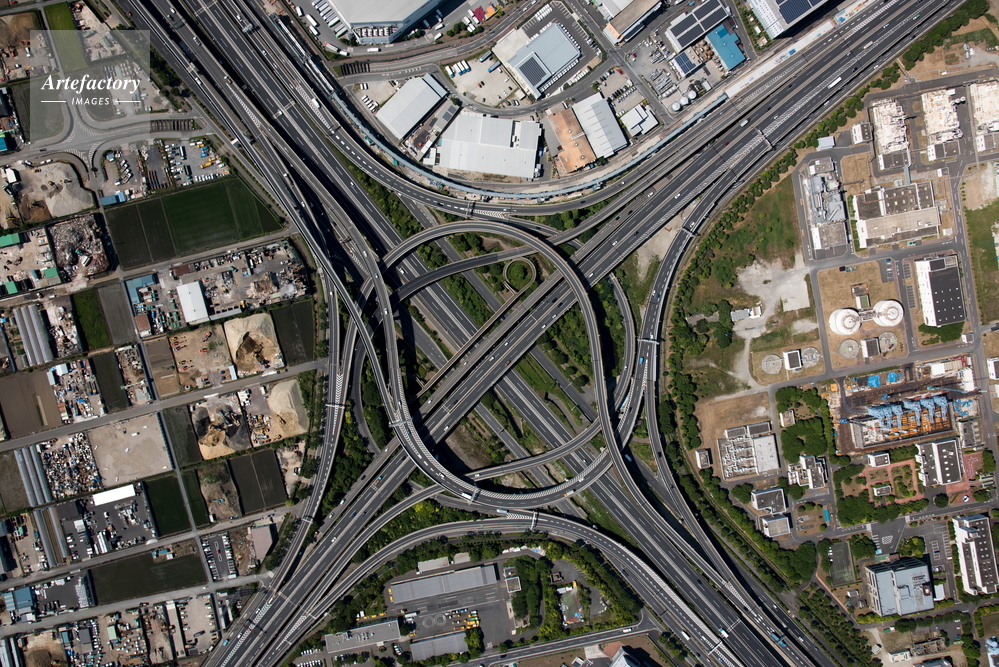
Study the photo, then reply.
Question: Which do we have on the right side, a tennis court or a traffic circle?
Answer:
tennis court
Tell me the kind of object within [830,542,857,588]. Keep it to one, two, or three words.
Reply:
tennis court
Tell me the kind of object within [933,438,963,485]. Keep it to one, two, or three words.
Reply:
building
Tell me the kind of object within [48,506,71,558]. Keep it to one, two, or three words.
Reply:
greenhouse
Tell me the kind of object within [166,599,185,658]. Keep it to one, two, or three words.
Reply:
shed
